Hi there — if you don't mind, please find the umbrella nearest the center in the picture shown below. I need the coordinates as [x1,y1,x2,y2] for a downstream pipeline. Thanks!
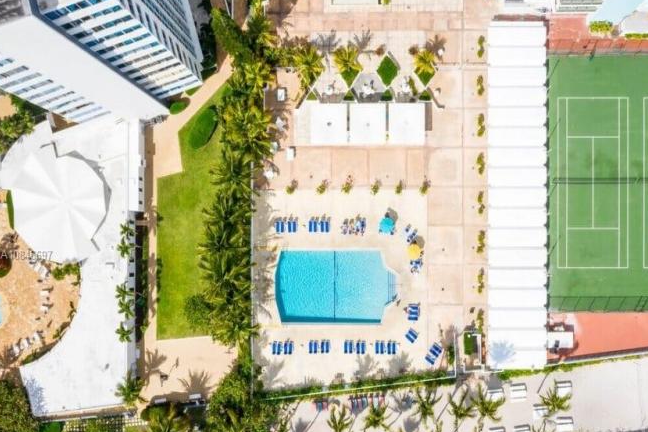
[379,216,394,234]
